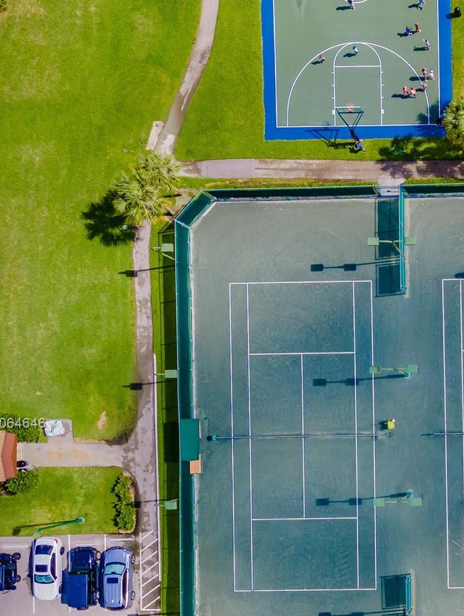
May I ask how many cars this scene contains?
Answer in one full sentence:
I count 3 cars.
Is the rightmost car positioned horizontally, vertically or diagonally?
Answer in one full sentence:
Seen from above, the rightmost car lies vertically.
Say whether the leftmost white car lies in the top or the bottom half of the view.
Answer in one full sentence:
Seen from above, the leftmost white car lies in the bottom half of the view.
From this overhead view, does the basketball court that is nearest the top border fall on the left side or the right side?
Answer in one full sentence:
The basketball court that is nearest the top border is on the right side of the image.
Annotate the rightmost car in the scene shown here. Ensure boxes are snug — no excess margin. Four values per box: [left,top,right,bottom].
[102,547,135,610]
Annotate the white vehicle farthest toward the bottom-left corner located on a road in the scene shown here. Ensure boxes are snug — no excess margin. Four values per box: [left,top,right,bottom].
[31,537,64,600]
